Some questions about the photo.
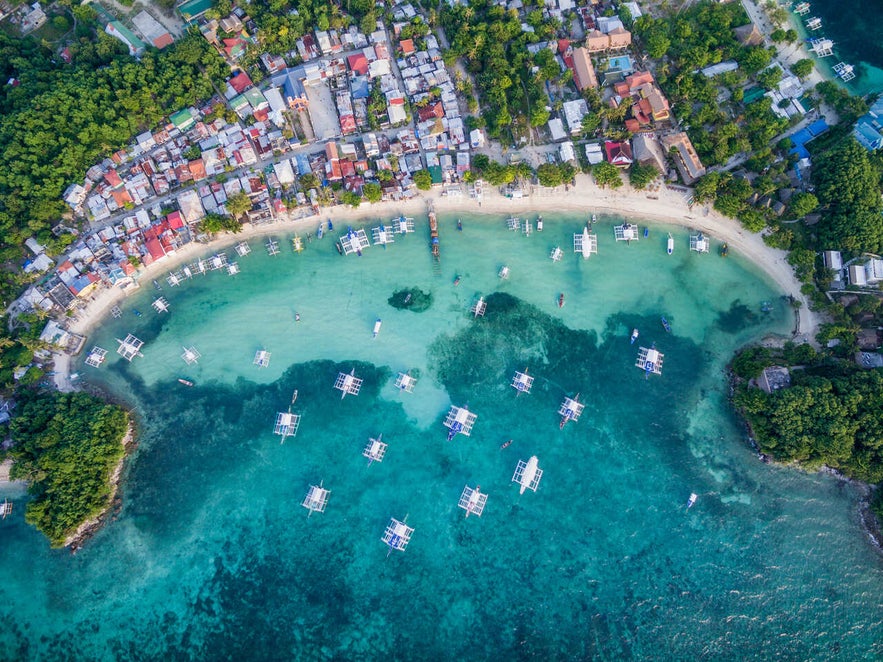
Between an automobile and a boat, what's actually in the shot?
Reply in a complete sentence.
The one in the frame is a boat.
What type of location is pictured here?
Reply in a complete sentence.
The picture captures a residential area.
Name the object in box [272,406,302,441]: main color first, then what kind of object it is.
white boat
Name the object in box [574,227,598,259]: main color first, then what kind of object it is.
white boat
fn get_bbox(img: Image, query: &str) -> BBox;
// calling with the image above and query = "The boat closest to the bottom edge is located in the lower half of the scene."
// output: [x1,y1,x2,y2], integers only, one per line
[379,513,416,555]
